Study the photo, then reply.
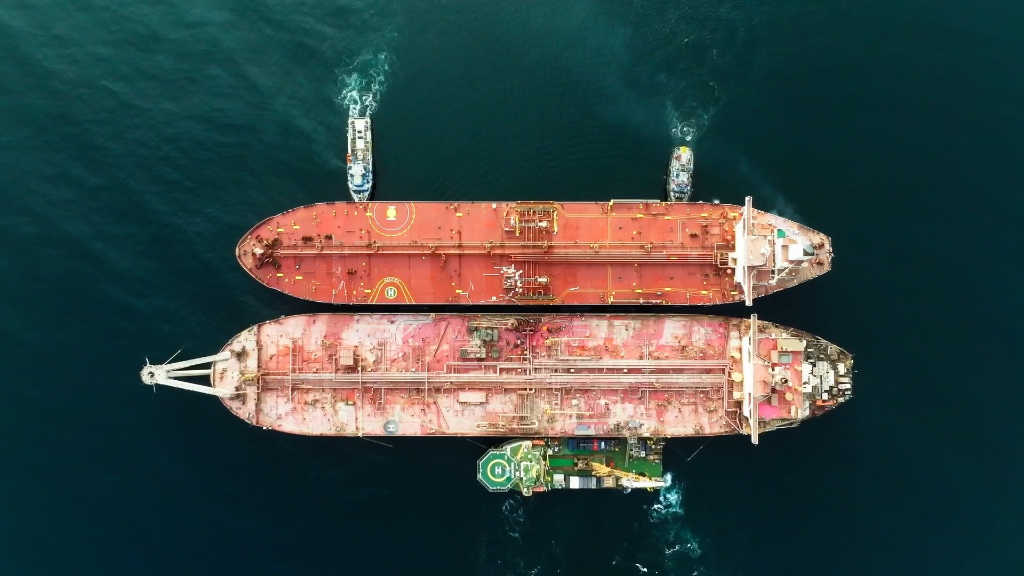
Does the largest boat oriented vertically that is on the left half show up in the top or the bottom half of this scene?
top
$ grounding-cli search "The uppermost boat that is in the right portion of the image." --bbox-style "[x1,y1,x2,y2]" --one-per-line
[663,146,694,202]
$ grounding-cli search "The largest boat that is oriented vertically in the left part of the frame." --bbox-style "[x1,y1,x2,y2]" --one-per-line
[346,117,375,201]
